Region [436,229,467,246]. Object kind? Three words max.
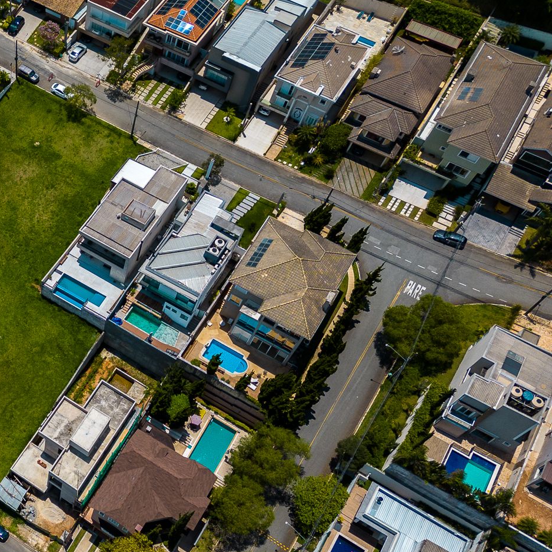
car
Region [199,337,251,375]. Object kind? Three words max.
swimming pool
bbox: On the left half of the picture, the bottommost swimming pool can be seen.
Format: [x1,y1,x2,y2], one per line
[184,414,240,476]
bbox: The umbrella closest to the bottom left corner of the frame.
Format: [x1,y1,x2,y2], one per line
[187,414,203,431]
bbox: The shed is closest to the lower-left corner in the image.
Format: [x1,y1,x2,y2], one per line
[0,475,25,512]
